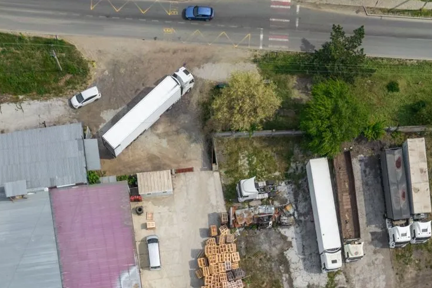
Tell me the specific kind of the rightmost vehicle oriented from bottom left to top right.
truck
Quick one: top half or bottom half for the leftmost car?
top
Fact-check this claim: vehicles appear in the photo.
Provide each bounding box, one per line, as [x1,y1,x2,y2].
[307,157,344,272]
[379,147,414,250]
[403,138,432,245]
[145,234,163,271]
[183,7,214,22]
[235,176,276,199]
[71,86,103,109]
[330,151,367,265]
[103,61,198,156]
